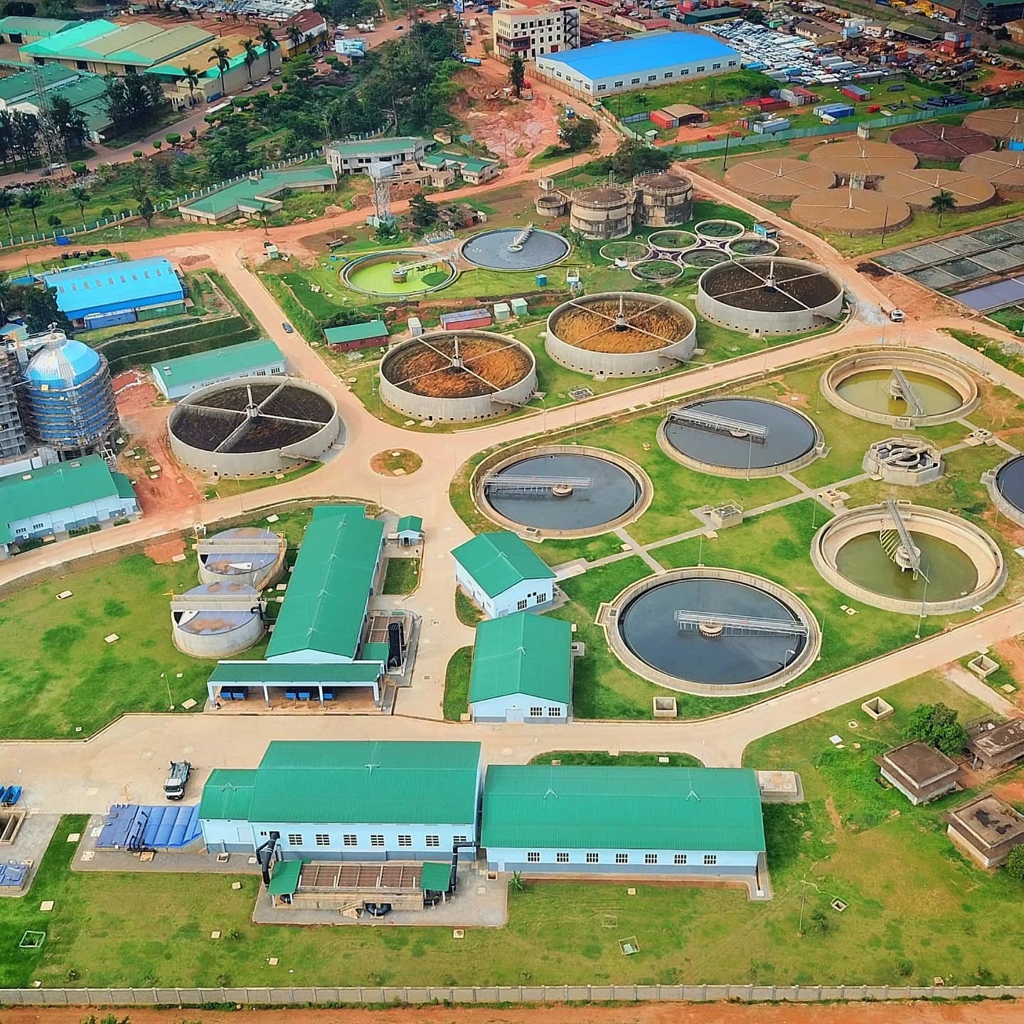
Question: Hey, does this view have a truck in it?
Yes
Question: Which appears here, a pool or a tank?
tank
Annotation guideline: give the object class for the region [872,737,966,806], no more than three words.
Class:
shed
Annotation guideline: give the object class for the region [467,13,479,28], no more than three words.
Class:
vehicle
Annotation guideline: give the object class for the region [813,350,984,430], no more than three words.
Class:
storage tank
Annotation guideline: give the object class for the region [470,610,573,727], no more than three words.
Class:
building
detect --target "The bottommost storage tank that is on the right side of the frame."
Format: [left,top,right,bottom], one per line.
[755,769,797,801]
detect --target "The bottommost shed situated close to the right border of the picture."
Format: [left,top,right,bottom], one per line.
[942,791,1024,872]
